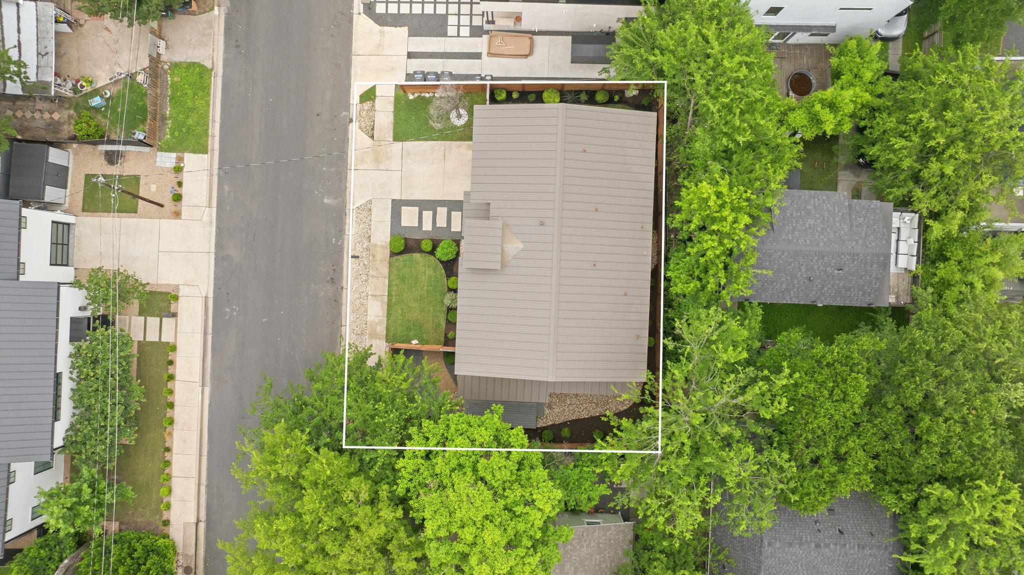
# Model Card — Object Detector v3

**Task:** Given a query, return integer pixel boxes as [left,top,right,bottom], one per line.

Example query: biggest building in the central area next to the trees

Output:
[454,103,657,405]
